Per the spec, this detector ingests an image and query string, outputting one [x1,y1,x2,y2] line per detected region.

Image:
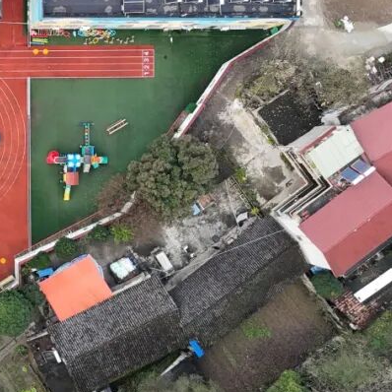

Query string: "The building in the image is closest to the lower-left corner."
[46,276,188,392]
